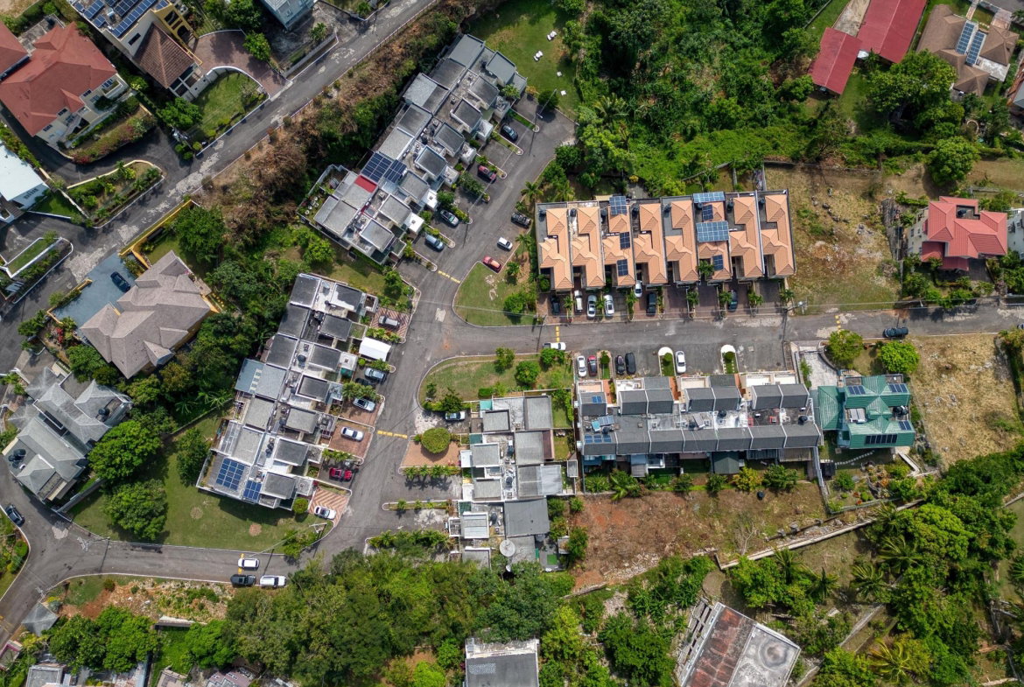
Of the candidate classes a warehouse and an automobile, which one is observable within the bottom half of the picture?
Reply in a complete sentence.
You can see an automobile within the bottom half of the picture.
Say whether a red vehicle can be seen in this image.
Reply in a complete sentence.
Yes, the frame does contain a red vehicle.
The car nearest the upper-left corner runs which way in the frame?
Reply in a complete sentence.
The car nearest the upper-left corner runs at an angle in the image.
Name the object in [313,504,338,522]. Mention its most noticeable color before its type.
white car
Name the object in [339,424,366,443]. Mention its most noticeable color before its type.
white car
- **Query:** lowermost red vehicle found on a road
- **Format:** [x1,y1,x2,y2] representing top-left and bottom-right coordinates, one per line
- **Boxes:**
[328,465,354,482]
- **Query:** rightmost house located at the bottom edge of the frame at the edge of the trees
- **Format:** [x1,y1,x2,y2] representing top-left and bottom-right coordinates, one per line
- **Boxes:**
[668,593,801,687]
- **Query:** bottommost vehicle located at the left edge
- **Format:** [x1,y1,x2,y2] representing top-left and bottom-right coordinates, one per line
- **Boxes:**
[3,503,28,528]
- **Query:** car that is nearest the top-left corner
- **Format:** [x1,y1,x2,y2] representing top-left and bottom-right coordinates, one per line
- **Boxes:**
[109,270,134,294]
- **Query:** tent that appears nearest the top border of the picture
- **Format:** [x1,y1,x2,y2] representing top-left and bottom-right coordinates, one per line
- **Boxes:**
[359,338,392,362]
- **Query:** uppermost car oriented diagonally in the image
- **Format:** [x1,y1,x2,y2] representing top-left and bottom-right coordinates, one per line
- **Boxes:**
[500,123,519,142]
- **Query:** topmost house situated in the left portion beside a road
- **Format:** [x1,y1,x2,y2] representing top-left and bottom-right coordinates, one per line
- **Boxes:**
[262,0,322,36]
